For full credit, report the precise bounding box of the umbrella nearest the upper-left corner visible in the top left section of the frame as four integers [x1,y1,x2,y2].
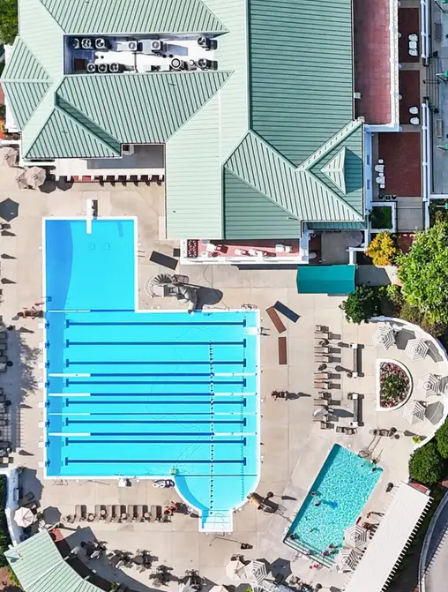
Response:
[0,144,24,169]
